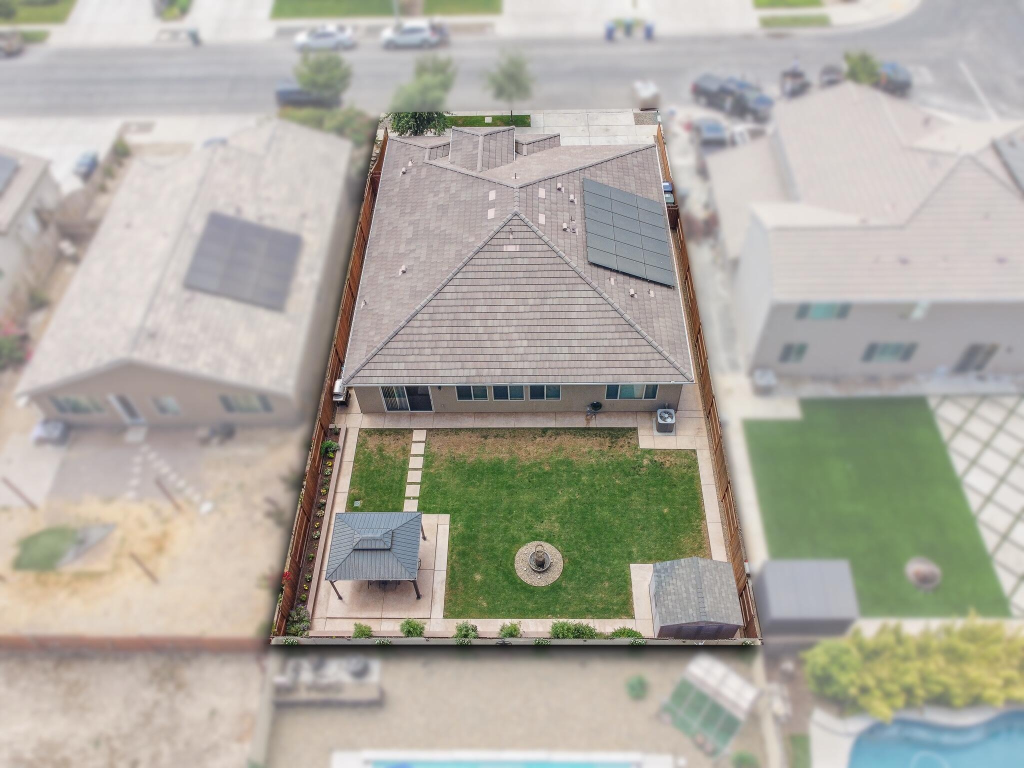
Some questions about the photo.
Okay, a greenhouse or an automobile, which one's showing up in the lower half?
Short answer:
greenhouse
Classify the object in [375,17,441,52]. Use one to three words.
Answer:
car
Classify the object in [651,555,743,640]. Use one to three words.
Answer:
shed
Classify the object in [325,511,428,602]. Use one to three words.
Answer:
gazebo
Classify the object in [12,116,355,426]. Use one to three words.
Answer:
house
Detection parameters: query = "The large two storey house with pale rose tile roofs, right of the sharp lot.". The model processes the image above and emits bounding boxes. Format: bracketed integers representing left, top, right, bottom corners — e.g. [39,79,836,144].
[704,83,1024,377]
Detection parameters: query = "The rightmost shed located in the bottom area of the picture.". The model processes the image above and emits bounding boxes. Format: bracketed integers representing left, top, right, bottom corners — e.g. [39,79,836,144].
[757,560,865,636]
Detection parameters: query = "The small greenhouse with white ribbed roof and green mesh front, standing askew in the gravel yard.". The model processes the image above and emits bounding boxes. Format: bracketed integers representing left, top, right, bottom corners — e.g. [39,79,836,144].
[662,653,763,757]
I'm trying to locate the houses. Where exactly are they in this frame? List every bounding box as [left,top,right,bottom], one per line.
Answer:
[12,116,355,426]
[704,83,1024,377]
[340,124,696,413]
[0,135,67,312]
